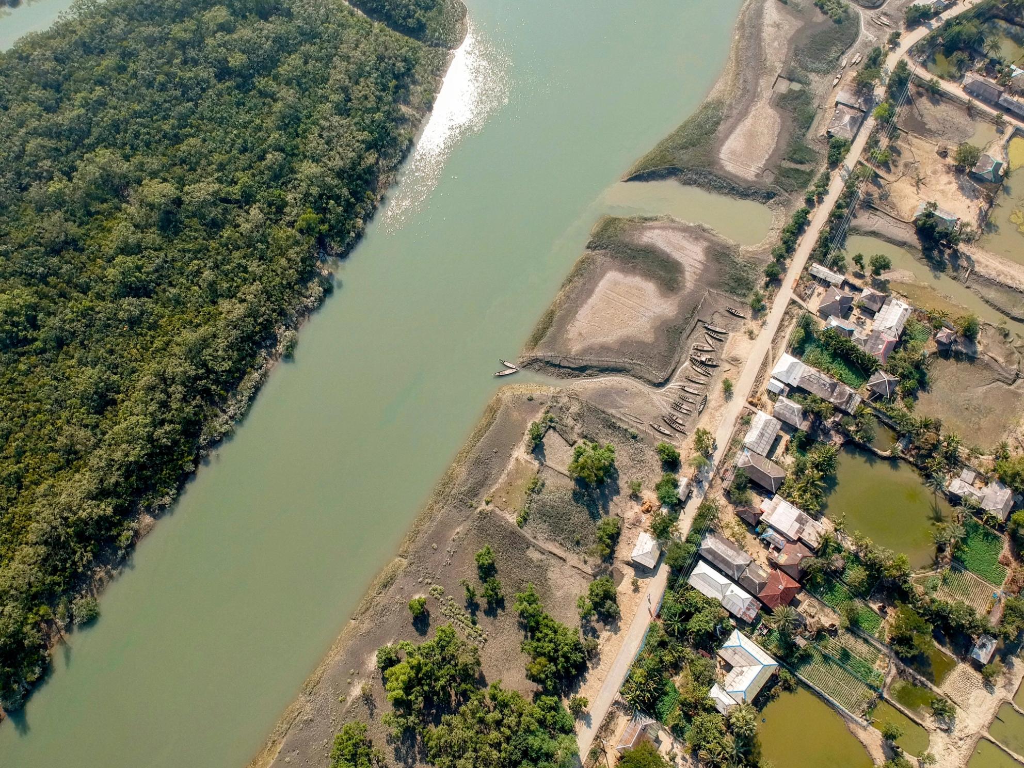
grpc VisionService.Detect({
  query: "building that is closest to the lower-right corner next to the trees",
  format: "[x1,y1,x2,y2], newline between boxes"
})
[966,634,998,664]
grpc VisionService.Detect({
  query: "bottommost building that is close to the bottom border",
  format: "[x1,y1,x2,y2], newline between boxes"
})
[615,712,660,759]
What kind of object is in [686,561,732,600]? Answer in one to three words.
house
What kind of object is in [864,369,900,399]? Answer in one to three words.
house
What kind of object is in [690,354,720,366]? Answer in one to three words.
boat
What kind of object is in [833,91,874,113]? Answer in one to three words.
shed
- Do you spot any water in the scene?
Yes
